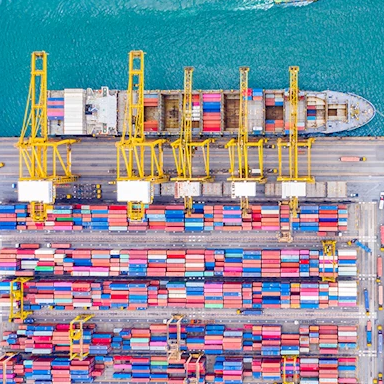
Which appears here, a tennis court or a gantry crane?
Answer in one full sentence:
There is a gantry crane in the scene.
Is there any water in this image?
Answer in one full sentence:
Yes, water can be seen from above here.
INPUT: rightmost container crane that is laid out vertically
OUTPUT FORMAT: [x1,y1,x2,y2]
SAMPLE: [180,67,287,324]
[317,241,336,286]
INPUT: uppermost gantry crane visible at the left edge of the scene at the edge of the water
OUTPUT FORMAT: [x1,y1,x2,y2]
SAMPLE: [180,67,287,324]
[16,50,87,228]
